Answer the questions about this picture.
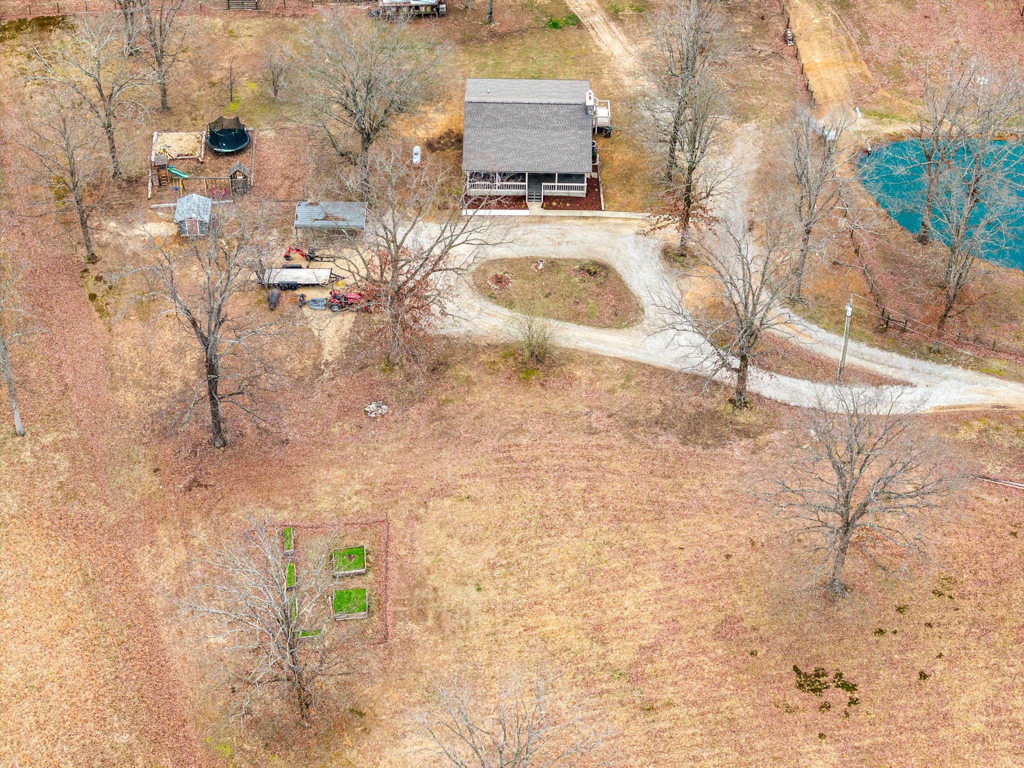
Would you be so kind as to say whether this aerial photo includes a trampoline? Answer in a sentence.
Yes, there's a trampoline down there.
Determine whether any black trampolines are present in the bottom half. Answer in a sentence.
No, there's no black trampoline to be seen in the bottom half.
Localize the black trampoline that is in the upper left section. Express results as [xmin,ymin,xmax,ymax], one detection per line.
[206,115,249,160]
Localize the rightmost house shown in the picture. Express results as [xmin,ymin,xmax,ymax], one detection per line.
[462,79,608,203]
